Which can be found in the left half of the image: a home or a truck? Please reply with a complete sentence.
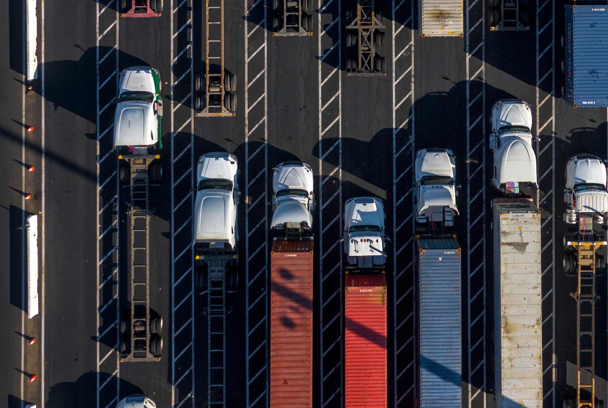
Looking in the left half of the image, you will find a truck.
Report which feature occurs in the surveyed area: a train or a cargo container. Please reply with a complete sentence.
Visible in the photo is a cargo container.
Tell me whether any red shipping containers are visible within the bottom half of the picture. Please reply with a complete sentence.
Yes, a red shipping container can be seen within the bottom half of the picture.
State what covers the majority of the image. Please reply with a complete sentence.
For the most part, this view shows paved ground.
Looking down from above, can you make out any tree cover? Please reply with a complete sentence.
No, no tree cover is visible.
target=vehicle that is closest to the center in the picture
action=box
[267,159,318,239]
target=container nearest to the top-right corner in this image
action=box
[564,3,608,108]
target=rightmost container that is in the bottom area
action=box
[494,201,541,408]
